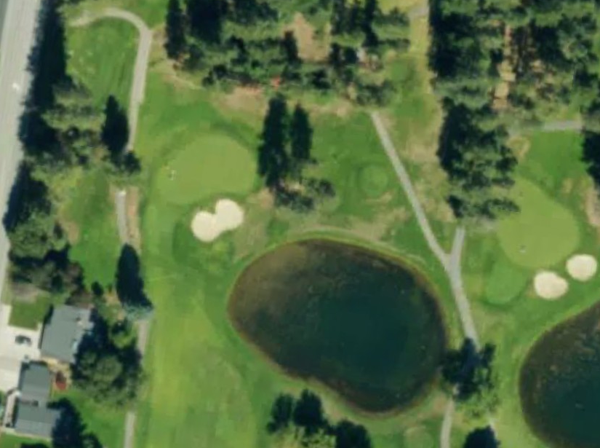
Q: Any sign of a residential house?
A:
Yes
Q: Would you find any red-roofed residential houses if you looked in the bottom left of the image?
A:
No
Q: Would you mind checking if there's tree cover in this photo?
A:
Yes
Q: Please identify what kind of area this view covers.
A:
golf course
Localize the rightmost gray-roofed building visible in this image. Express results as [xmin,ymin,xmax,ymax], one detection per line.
[42,302,89,360]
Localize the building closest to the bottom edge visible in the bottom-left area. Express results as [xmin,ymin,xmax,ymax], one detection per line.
[14,362,60,437]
